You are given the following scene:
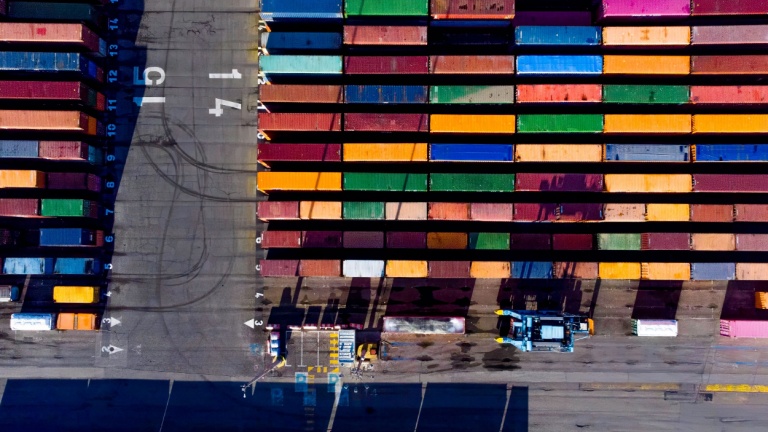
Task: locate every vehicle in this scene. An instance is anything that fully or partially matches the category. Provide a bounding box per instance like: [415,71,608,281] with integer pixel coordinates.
[367,334,376,356]
[493,308,592,356]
